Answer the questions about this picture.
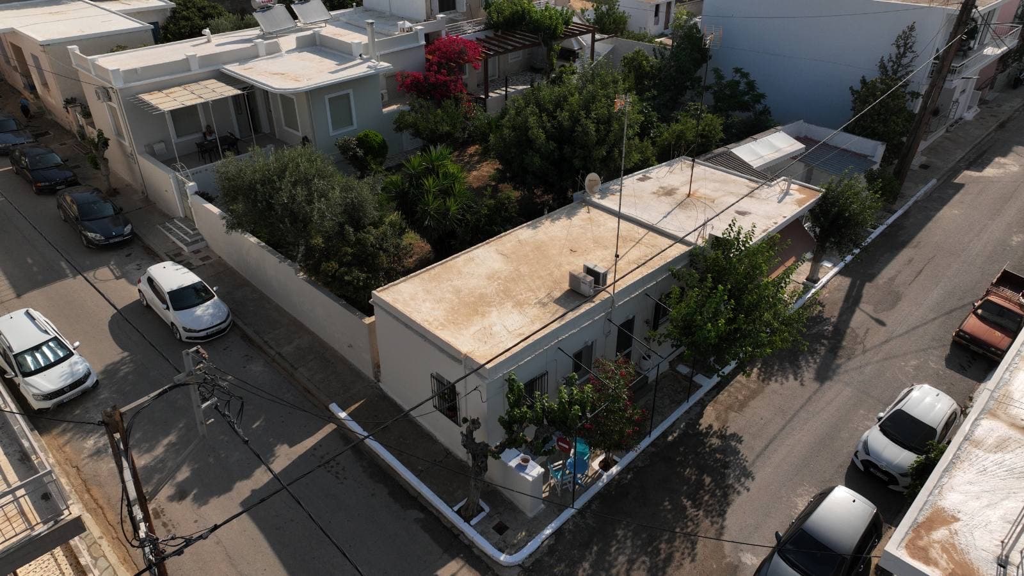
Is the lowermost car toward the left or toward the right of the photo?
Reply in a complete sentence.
You can find the lowermost car on the right side of the picture.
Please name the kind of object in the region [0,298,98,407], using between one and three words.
car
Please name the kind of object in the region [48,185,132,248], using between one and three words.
car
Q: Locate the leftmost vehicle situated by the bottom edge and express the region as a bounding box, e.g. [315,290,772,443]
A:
[743,483,889,576]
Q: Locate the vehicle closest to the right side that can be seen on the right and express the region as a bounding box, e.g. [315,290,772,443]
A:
[950,279,1024,364]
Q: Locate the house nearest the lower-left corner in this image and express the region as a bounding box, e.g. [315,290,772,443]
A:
[0,383,86,576]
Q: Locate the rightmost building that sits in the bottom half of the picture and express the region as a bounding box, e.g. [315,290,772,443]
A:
[880,328,1024,576]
